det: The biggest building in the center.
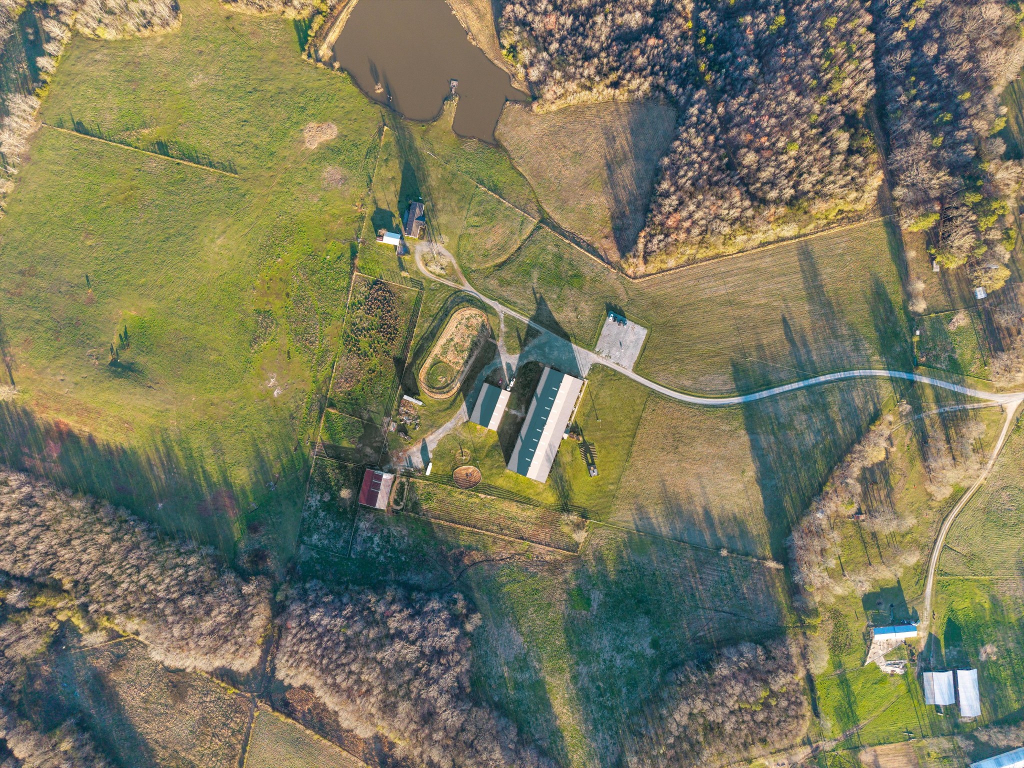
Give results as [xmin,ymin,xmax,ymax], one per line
[507,367,584,483]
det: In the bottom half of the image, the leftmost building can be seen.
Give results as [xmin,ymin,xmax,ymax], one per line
[359,469,394,509]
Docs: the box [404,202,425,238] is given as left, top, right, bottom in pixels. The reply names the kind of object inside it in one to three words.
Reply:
house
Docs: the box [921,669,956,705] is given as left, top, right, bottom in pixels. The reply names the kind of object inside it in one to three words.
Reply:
shed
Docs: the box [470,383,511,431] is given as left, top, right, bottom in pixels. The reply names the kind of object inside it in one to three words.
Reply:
barn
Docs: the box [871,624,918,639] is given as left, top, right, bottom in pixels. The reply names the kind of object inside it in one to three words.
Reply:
shed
